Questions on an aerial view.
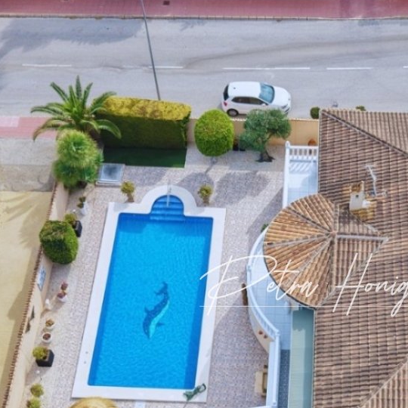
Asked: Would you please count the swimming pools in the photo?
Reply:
one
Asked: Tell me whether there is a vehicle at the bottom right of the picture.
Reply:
No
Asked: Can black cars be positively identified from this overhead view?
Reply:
No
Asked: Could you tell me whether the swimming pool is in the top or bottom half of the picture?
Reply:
bottom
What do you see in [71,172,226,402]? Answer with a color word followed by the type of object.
blue swimming pool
